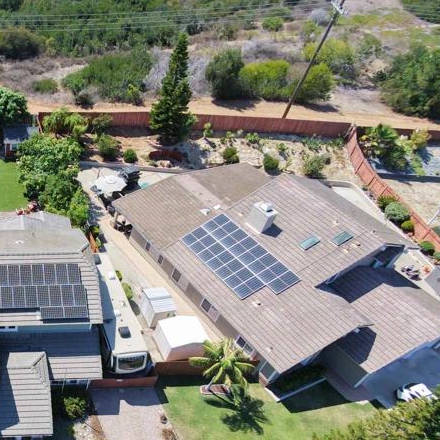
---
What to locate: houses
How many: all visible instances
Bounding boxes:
[107,163,440,385]
[0,211,103,440]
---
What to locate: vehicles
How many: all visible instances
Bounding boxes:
[92,254,153,388]
[387,368,440,406]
